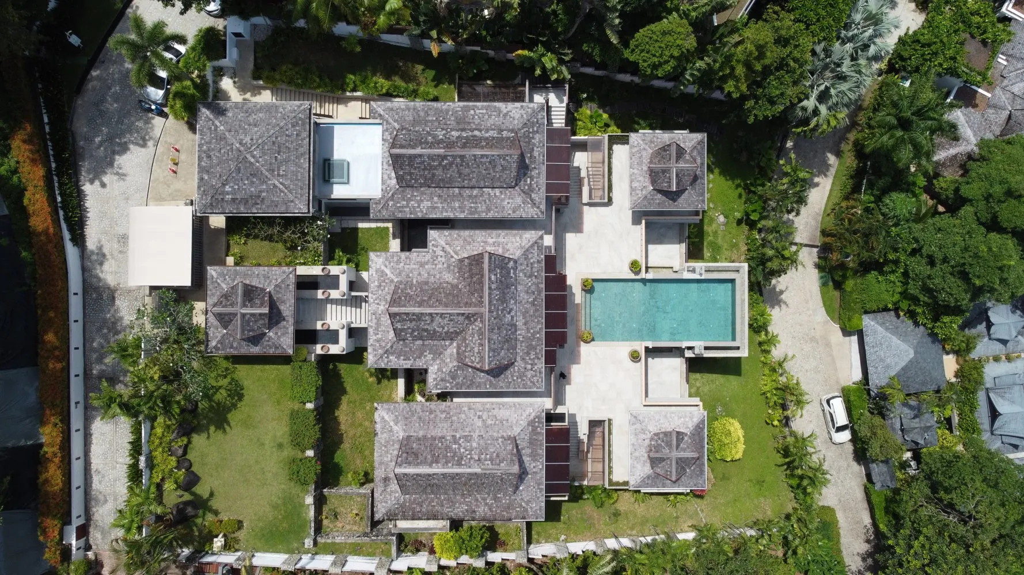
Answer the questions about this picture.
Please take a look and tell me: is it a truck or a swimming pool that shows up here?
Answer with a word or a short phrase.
swimming pool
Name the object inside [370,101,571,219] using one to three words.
house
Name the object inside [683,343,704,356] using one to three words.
fountain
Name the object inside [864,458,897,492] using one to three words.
shed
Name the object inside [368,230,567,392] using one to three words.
house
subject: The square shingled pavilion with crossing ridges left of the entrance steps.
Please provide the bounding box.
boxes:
[206,265,297,355]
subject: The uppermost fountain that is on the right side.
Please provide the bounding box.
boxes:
[682,264,704,277]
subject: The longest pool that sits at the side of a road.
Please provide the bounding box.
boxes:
[576,264,748,357]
